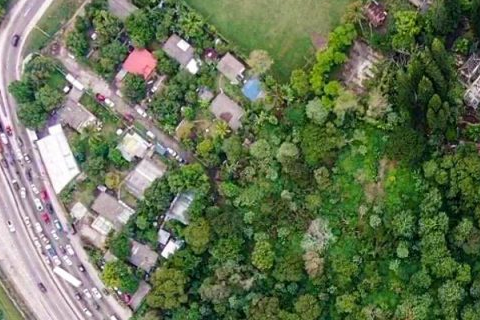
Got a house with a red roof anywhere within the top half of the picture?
Yes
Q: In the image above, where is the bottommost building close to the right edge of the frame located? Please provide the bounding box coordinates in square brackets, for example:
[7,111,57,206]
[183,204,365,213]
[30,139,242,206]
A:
[458,55,480,110]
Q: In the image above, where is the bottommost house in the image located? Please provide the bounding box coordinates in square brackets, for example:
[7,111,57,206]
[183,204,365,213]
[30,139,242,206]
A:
[128,282,152,311]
